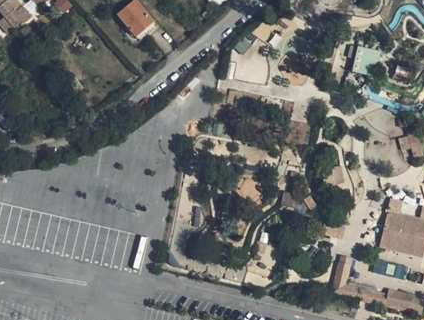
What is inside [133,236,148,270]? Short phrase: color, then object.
white vehicle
